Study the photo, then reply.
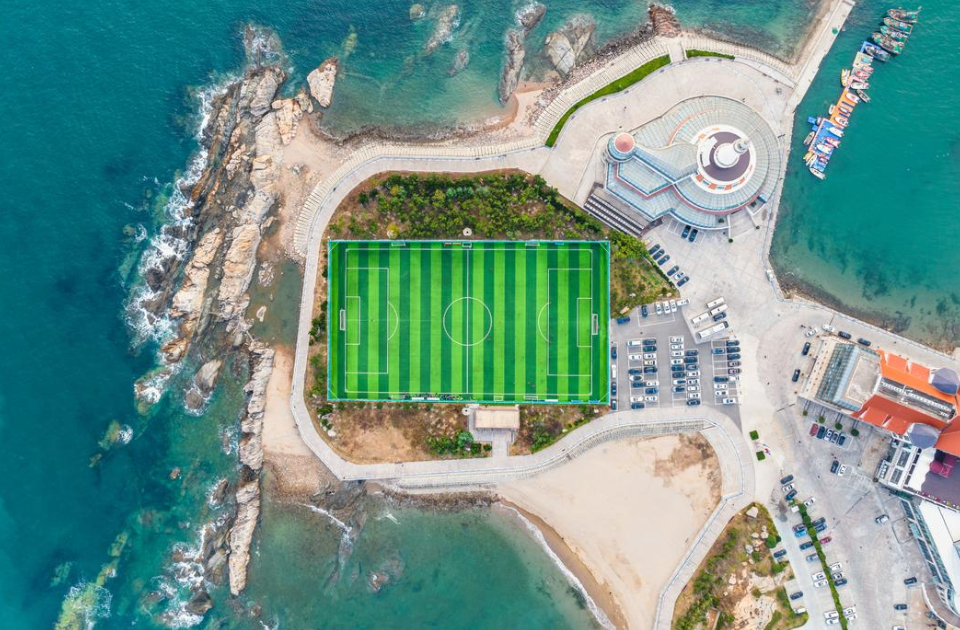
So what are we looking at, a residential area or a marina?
marina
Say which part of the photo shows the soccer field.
center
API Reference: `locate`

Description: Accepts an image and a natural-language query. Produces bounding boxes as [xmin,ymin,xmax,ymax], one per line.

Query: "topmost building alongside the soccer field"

[604,94,783,240]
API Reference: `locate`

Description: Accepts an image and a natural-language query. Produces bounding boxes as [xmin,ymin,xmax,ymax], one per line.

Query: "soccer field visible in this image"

[328,241,609,404]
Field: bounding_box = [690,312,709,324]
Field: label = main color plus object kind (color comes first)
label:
white vehicle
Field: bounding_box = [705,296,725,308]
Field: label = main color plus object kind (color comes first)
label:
white vehicle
